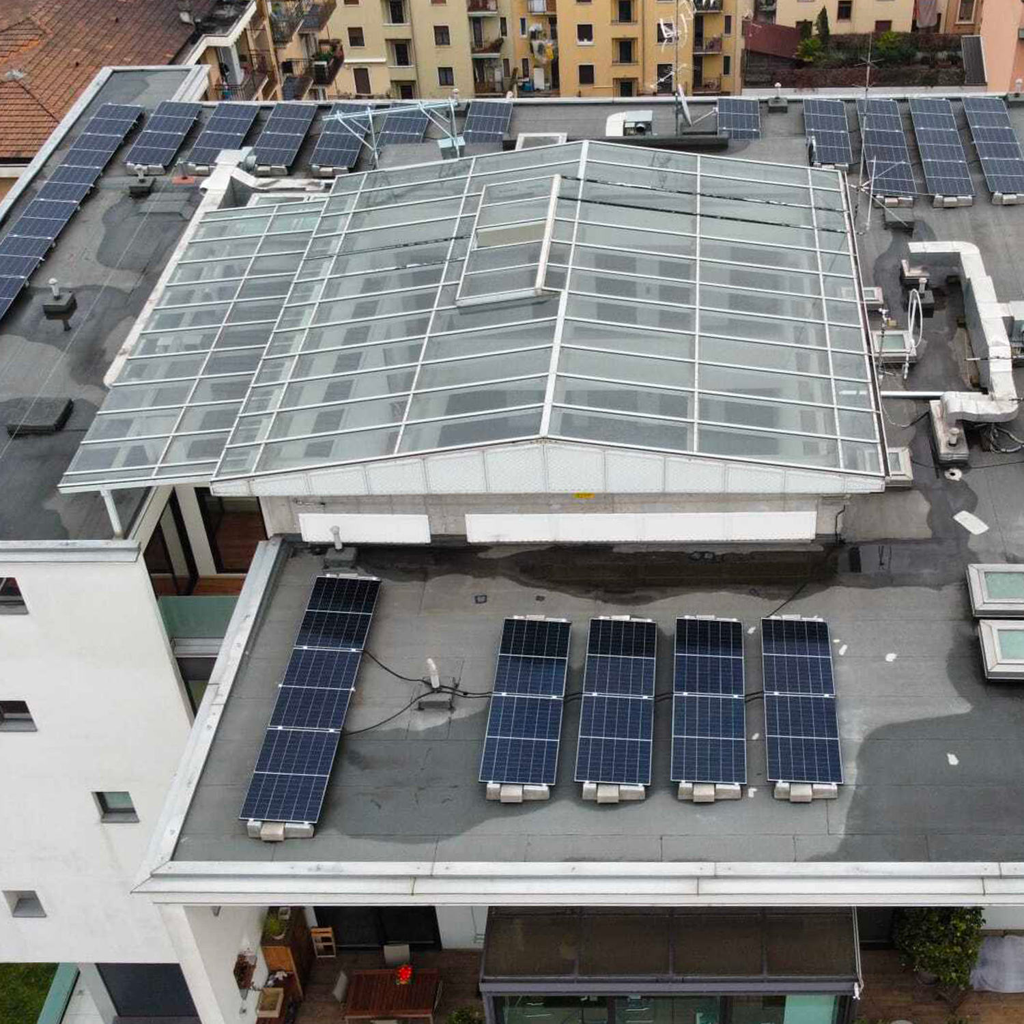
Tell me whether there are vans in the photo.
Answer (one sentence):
No, no van is visible in the view.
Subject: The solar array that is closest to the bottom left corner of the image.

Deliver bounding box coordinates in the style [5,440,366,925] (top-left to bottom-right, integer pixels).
[239,574,382,849]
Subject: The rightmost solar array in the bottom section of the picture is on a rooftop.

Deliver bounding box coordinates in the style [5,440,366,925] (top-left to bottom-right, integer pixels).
[759,614,847,807]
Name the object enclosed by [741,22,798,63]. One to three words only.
shed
